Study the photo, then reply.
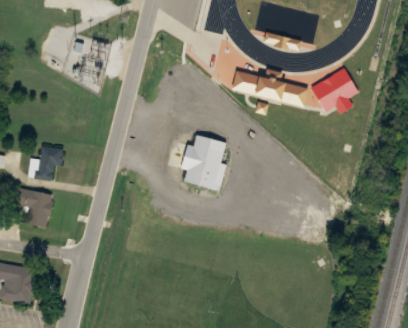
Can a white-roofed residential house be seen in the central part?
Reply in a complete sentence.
Yes, there is a white-roofed residential house in the central part.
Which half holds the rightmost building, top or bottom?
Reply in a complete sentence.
The top half of the photo is where the rightmost building is.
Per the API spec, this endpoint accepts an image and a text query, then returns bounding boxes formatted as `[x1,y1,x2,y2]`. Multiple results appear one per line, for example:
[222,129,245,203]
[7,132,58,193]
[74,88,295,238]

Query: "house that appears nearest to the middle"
[182,136,228,192]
